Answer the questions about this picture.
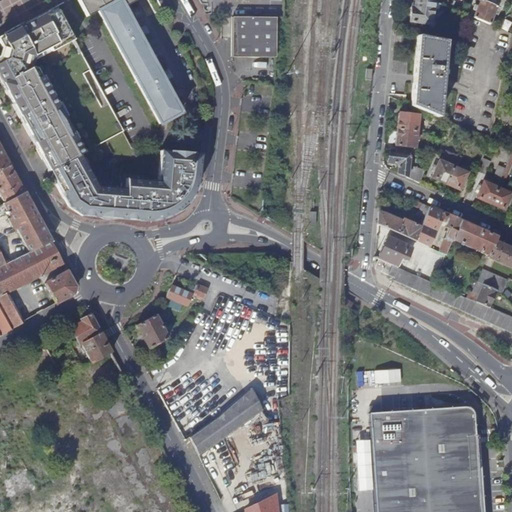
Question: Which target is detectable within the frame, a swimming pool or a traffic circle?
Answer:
traffic circle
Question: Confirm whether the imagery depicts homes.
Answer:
Yes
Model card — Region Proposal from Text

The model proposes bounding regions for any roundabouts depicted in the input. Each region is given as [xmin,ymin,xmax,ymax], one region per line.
[77,226,156,302]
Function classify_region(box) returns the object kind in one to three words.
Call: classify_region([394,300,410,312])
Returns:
vehicle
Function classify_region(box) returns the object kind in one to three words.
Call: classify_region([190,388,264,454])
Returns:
building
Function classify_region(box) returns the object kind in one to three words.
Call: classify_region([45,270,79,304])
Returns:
house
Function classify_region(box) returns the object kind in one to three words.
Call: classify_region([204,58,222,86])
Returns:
vehicle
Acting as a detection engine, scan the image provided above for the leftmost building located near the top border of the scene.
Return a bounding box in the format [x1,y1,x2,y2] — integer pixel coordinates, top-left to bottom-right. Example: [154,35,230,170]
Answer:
[0,4,76,64]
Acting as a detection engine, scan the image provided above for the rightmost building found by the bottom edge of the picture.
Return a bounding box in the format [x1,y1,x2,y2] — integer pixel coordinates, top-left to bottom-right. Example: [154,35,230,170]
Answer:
[368,406,486,512]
